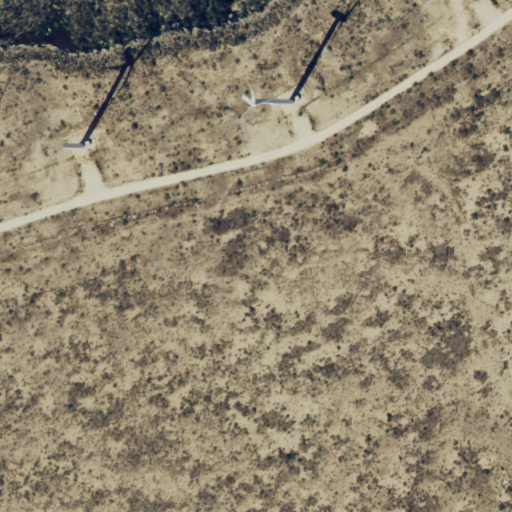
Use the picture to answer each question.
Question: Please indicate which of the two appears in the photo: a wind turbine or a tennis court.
wind turbine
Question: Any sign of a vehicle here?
No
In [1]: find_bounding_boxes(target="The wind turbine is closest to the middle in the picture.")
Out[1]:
[222,76,296,130]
